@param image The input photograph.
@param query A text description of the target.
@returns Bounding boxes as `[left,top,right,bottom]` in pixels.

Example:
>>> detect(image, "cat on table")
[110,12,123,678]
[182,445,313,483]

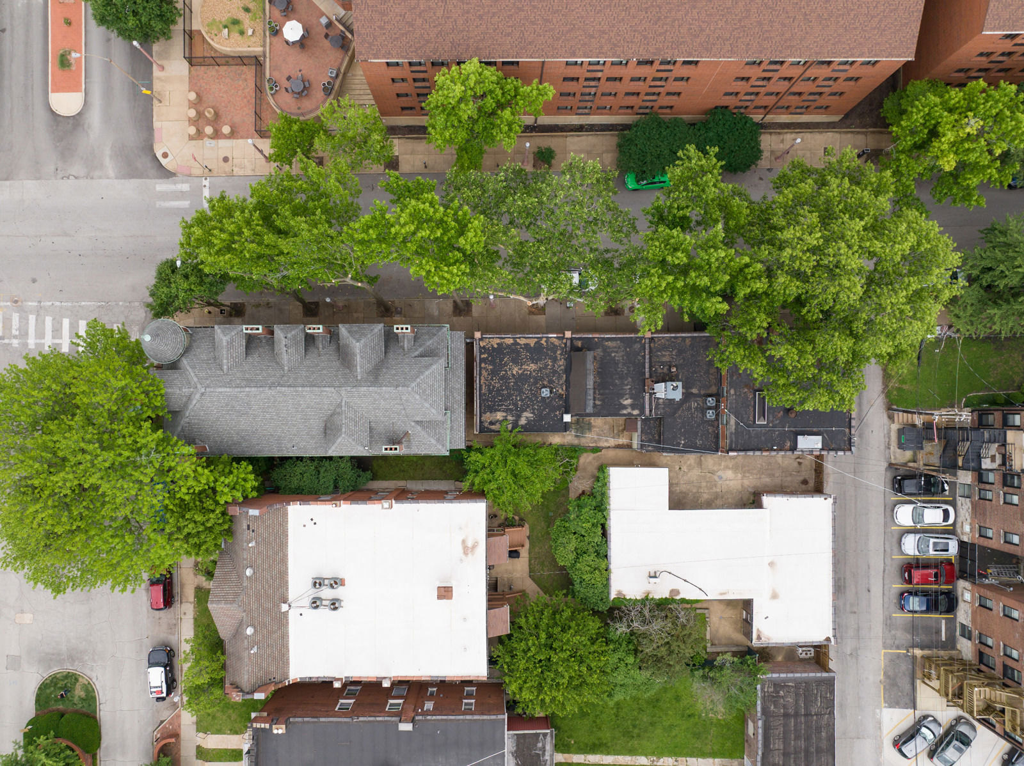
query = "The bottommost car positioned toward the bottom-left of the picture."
[146,644,178,702]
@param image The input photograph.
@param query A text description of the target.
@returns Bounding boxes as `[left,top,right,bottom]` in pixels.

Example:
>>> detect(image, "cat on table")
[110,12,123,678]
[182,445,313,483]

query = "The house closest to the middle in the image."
[473,331,572,435]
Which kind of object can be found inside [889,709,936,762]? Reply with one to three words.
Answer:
car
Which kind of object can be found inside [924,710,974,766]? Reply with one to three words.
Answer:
car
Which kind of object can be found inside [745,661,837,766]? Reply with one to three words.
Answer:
building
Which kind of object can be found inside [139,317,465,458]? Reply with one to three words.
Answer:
house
